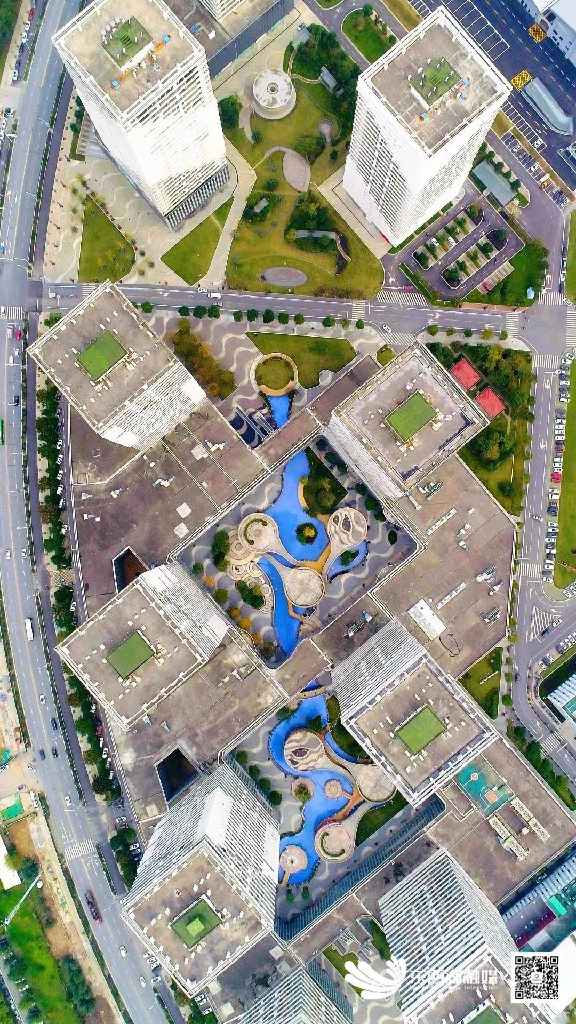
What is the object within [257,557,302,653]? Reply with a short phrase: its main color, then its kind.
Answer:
blue swimming pool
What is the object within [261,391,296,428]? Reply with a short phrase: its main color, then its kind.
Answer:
blue swimming pool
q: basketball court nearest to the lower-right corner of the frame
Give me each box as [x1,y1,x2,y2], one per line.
[451,756,513,816]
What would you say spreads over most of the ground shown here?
buildings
